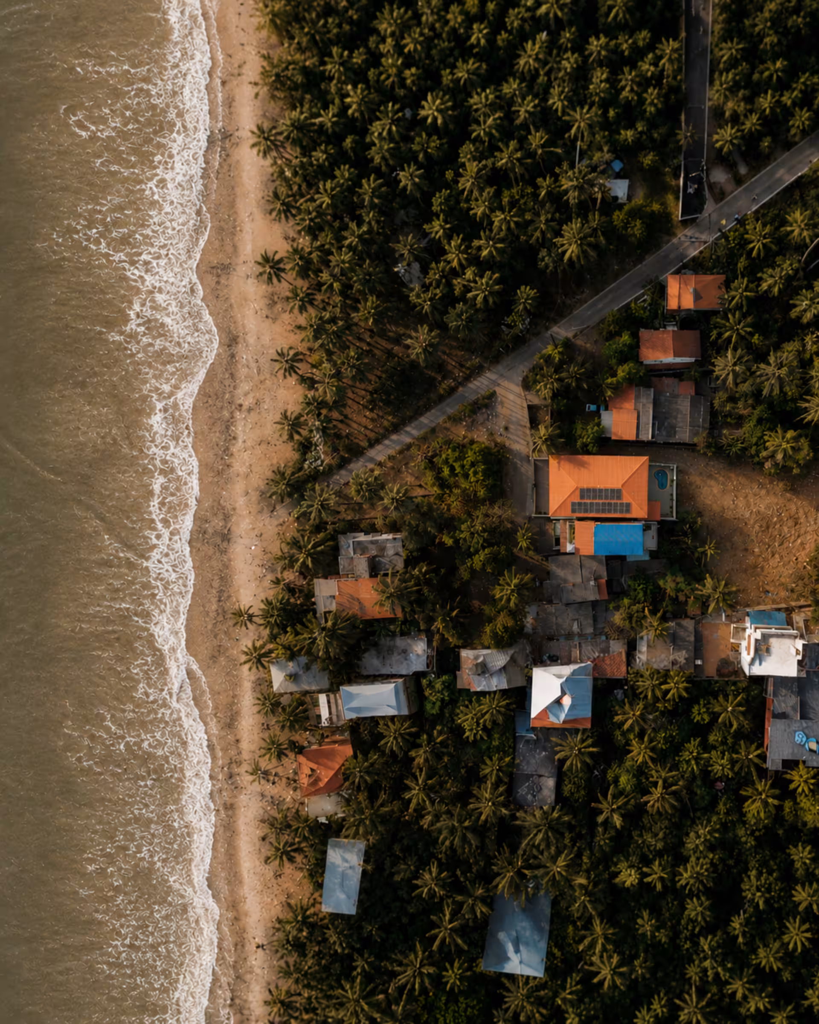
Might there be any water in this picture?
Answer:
Yes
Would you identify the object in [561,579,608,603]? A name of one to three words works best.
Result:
house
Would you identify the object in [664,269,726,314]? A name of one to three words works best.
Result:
house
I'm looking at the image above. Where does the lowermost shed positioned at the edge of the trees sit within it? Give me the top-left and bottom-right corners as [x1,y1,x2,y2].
[482,885,552,978]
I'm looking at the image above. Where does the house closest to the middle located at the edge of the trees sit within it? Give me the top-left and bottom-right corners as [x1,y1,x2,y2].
[338,531,404,578]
